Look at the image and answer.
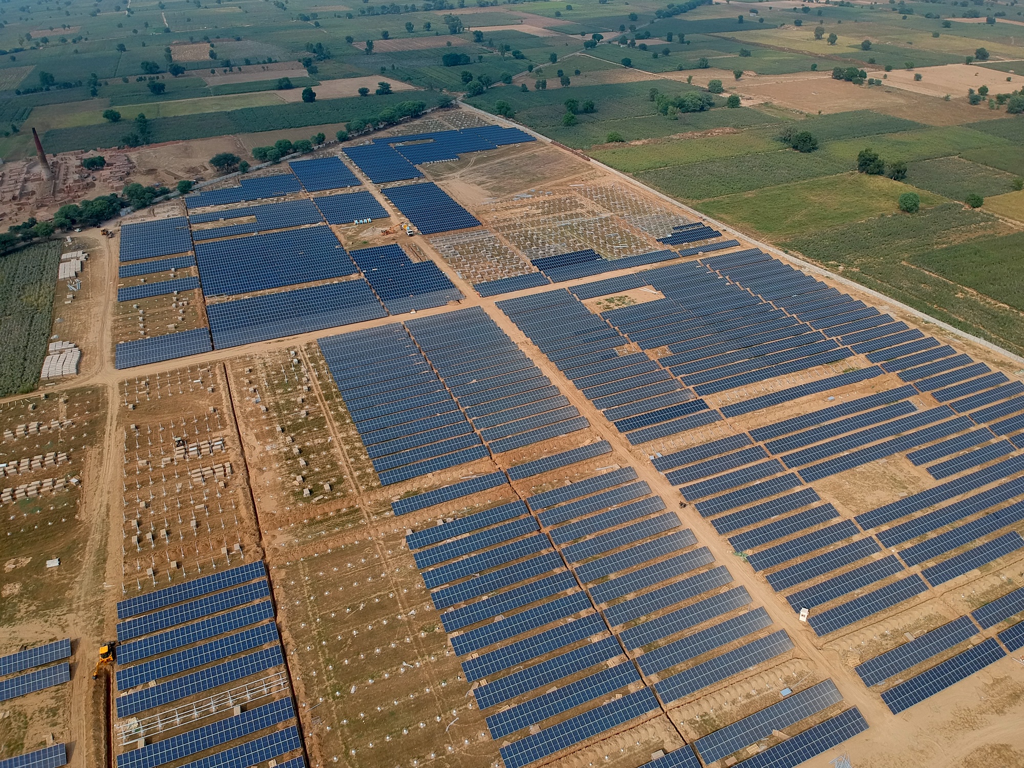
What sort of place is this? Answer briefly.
solar farm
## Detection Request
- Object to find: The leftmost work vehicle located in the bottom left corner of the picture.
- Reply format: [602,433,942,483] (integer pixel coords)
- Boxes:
[92,642,114,681]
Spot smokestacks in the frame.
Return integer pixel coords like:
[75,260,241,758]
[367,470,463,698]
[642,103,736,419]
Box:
[31,127,58,182]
